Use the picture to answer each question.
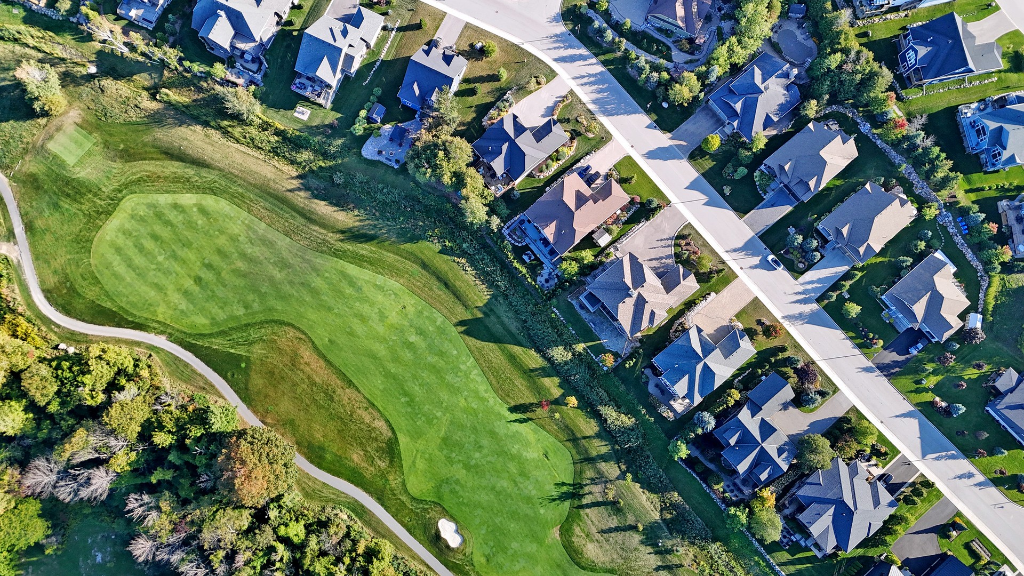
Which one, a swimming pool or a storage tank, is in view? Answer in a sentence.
Visible in the photo is a swimming pool.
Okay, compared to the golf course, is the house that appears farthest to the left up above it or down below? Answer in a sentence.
The house that appears farthest to the left is above the golf course.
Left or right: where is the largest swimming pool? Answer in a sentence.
The largest swimming pool sits on the right side.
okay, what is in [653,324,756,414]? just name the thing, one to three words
house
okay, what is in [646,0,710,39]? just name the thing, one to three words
house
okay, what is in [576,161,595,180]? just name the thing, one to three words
vehicle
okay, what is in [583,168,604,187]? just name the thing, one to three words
car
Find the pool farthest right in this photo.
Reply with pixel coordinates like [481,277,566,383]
[776,27,814,64]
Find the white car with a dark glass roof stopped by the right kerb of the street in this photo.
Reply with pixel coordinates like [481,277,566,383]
[765,252,784,272]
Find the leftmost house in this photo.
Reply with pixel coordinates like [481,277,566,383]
[115,0,170,30]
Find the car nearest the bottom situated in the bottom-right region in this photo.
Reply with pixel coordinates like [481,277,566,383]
[878,469,899,487]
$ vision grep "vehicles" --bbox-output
[907,336,931,356]
[576,161,595,180]
[878,469,899,487]
[583,168,604,187]
[765,252,784,272]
